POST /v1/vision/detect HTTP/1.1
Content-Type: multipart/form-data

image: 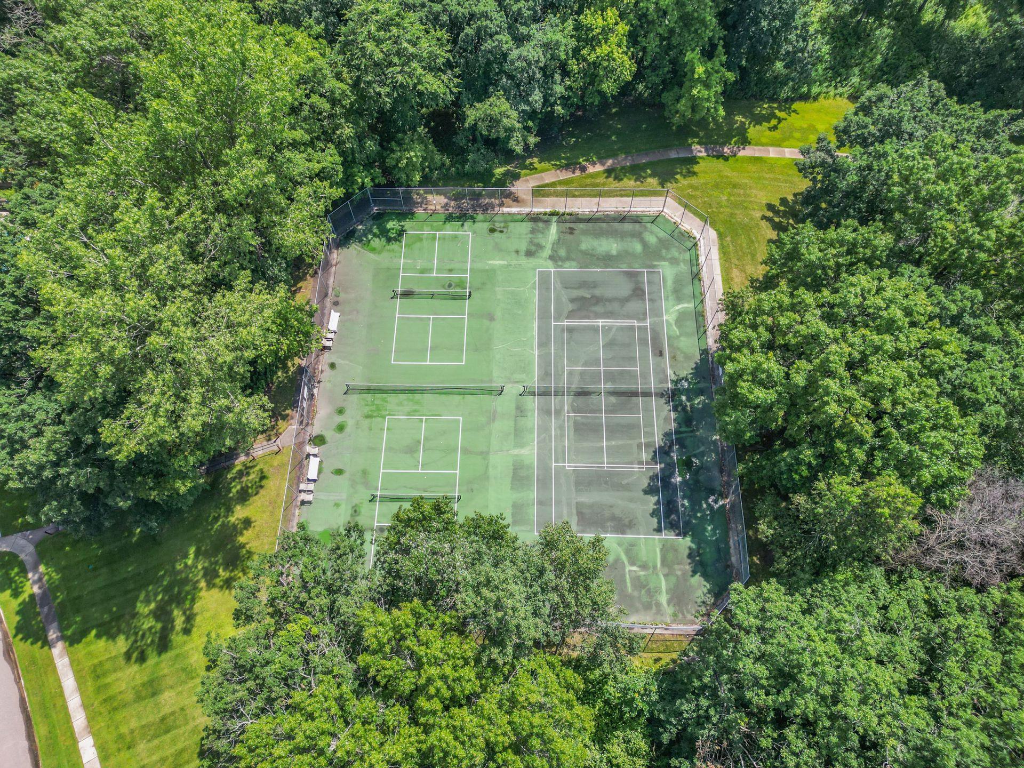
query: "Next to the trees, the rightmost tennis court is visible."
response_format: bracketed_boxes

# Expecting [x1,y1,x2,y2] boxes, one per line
[535,269,682,537]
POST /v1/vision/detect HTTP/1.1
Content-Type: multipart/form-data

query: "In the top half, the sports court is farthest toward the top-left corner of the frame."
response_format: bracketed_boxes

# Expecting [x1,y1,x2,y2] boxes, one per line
[392,233,471,364]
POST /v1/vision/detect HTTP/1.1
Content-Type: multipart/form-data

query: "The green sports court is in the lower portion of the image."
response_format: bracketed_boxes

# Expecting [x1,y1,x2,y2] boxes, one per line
[369,417,461,588]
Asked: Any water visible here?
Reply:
No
